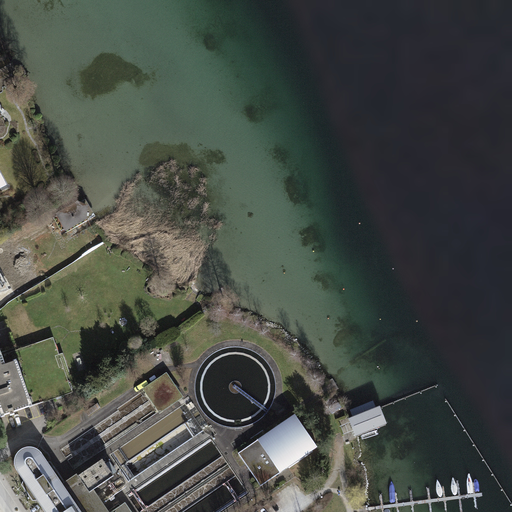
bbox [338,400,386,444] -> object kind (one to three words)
building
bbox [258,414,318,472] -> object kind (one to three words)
building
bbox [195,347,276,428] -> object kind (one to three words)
storage tank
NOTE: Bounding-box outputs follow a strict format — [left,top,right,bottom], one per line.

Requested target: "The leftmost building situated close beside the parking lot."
[0,358,30,414]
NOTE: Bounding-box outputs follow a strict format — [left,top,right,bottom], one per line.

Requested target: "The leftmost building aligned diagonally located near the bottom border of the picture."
[12,447,82,512]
